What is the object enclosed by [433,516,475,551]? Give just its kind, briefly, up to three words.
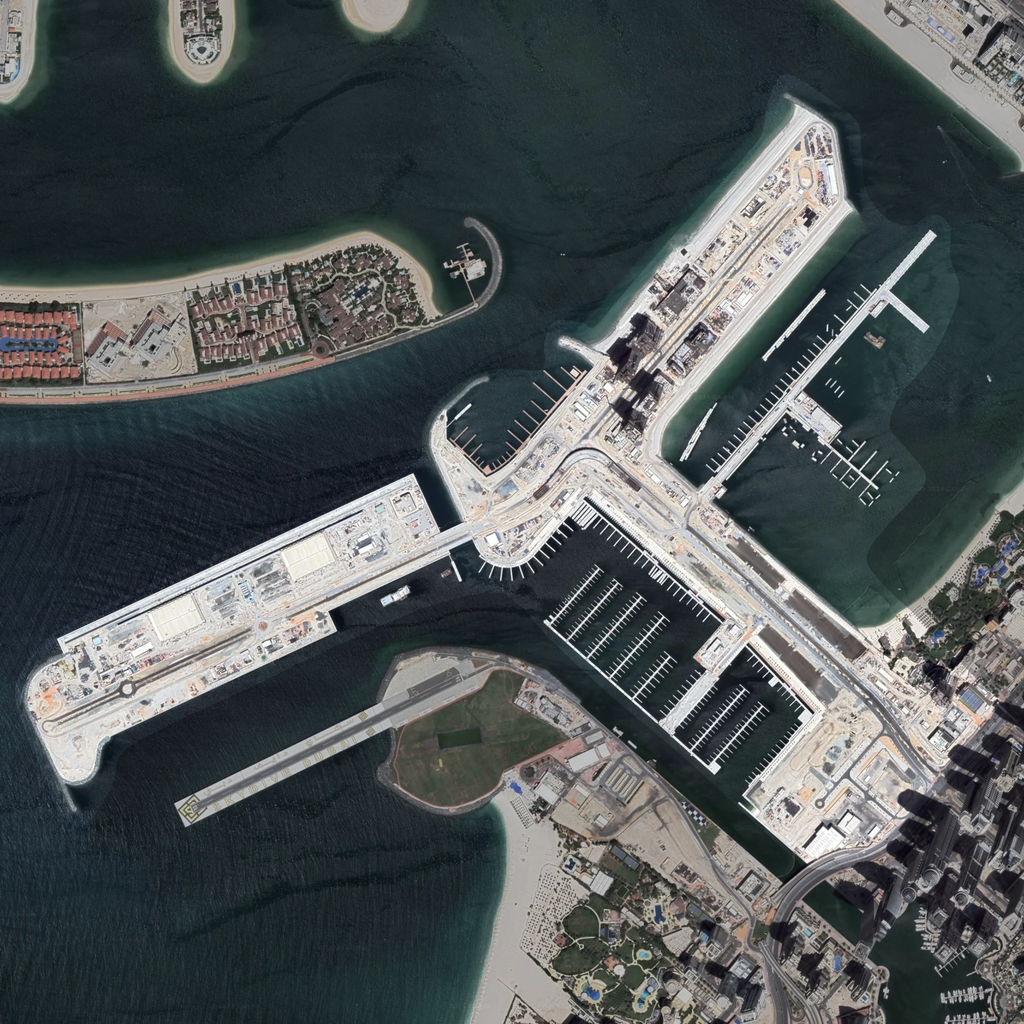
bridge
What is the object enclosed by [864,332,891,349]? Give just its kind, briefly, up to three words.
ship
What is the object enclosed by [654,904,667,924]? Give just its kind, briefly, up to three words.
swimming pool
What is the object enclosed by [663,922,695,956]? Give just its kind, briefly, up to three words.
building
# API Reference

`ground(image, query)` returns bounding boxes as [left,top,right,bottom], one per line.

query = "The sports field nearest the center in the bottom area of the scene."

[438,727,482,749]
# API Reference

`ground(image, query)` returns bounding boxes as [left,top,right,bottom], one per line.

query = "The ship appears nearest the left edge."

[380,585,411,606]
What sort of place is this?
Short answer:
port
